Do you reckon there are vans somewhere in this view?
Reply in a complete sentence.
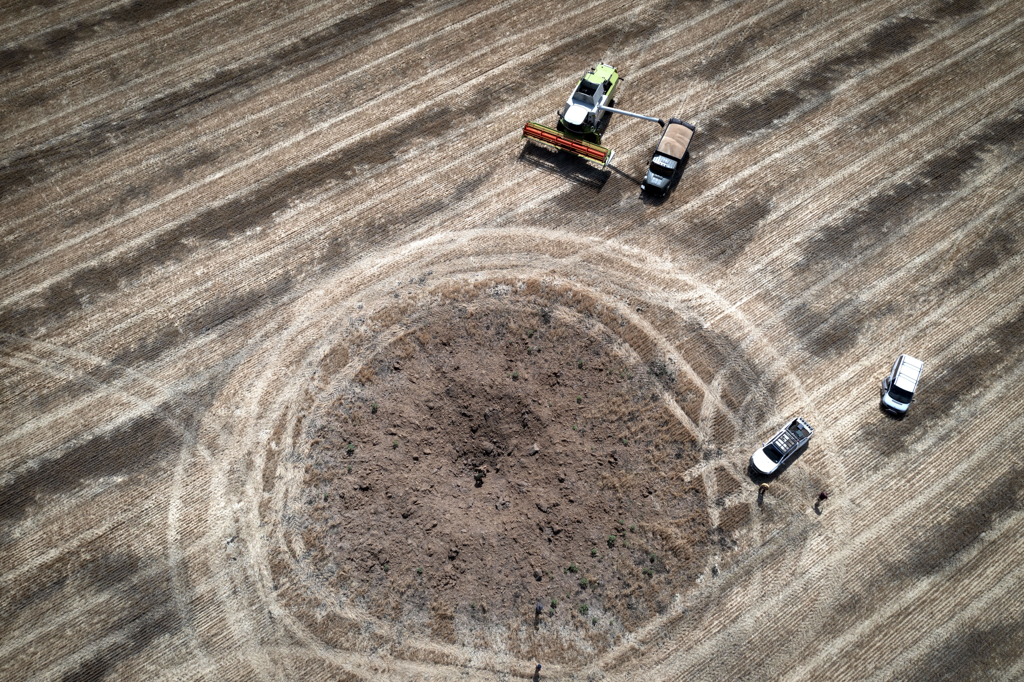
Yes, there's a van here.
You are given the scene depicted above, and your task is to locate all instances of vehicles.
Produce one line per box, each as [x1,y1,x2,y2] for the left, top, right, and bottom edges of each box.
[518,63,665,175]
[751,416,815,477]
[640,118,696,200]
[879,355,922,416]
